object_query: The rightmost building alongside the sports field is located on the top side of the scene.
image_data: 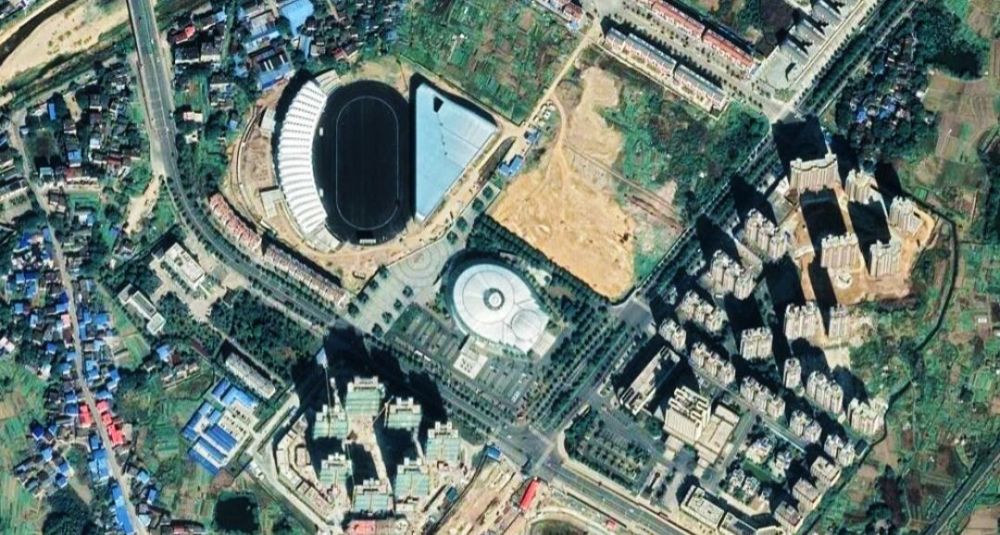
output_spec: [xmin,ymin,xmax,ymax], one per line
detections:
[416,83,498,227]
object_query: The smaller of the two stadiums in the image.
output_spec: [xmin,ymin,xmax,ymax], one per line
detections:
[445,256,550,354]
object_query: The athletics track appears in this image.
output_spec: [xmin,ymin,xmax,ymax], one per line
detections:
[314,80,412,244]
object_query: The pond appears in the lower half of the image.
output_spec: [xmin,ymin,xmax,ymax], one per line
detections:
[214,496,259,535]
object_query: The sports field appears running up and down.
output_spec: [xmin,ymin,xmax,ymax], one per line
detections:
[338,98,396,229]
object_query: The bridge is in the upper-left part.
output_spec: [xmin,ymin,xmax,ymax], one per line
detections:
[127,0,162,59]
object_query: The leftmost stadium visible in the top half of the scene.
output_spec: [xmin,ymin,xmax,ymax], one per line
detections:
[278,71,412,254]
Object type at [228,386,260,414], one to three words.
shed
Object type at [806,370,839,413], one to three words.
building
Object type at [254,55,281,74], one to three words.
house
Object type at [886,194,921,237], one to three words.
building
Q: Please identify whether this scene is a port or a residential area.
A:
residential area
